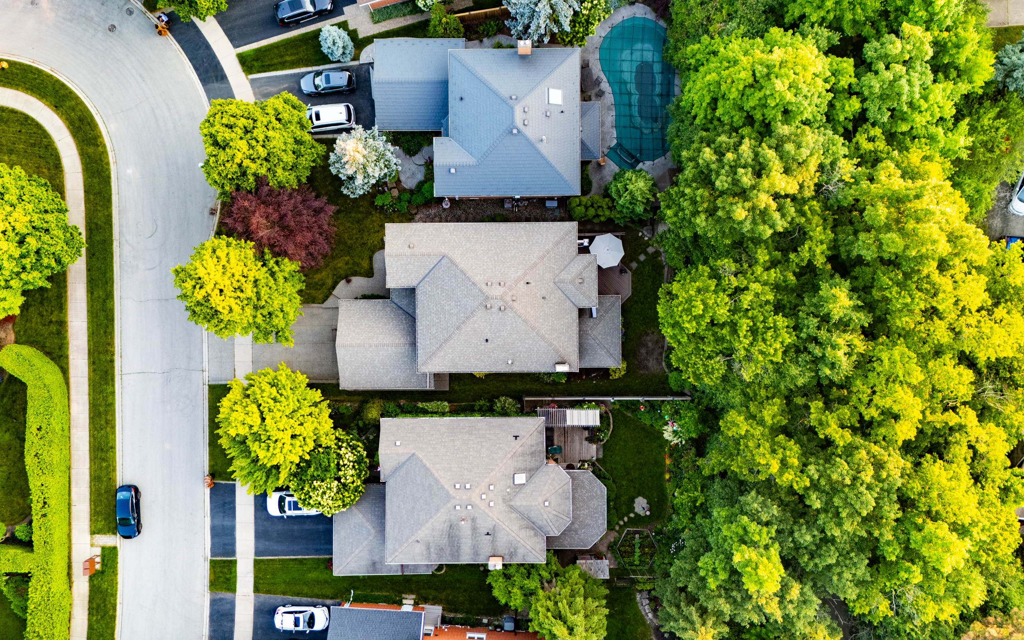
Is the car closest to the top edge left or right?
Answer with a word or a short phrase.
left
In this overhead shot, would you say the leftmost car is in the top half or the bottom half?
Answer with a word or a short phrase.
bottom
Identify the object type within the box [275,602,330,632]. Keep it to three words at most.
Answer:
car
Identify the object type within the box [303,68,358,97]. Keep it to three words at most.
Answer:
car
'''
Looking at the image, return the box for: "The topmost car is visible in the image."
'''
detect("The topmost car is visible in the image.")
[274,0,336,28]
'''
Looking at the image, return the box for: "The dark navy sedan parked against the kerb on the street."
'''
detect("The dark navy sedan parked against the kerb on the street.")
[115,483,145,536]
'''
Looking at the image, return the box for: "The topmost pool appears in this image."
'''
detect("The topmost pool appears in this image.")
[596,12,679,172]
